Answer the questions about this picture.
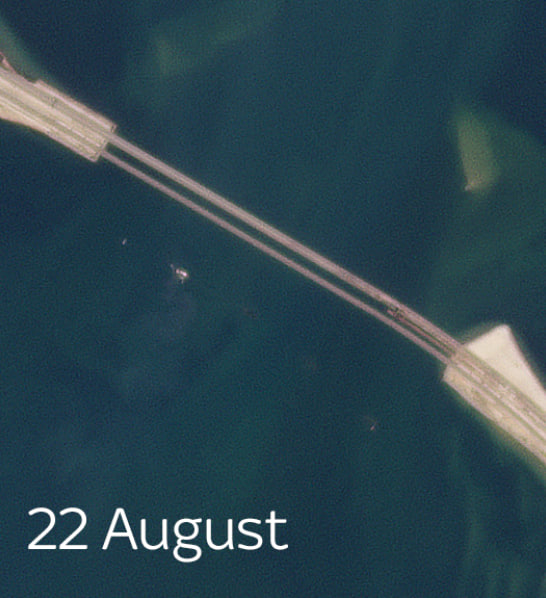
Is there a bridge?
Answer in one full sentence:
Yes, there's a bridge here.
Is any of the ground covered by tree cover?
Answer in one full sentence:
No, the picture contains no tree cover.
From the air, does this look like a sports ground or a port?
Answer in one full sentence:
What you see here is a port.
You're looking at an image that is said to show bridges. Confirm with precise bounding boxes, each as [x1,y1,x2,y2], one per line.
[108,133,462,352]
